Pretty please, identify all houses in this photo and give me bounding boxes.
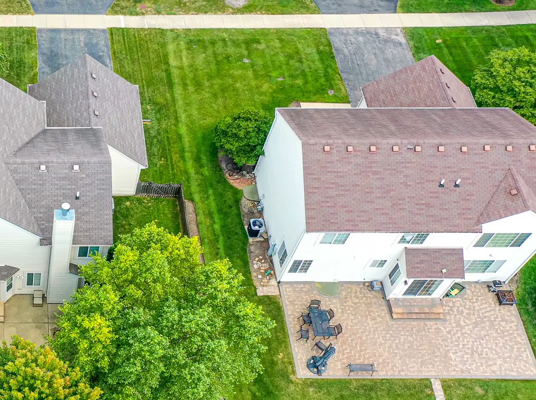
[0,54,152,322]
[255,56,536,318]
